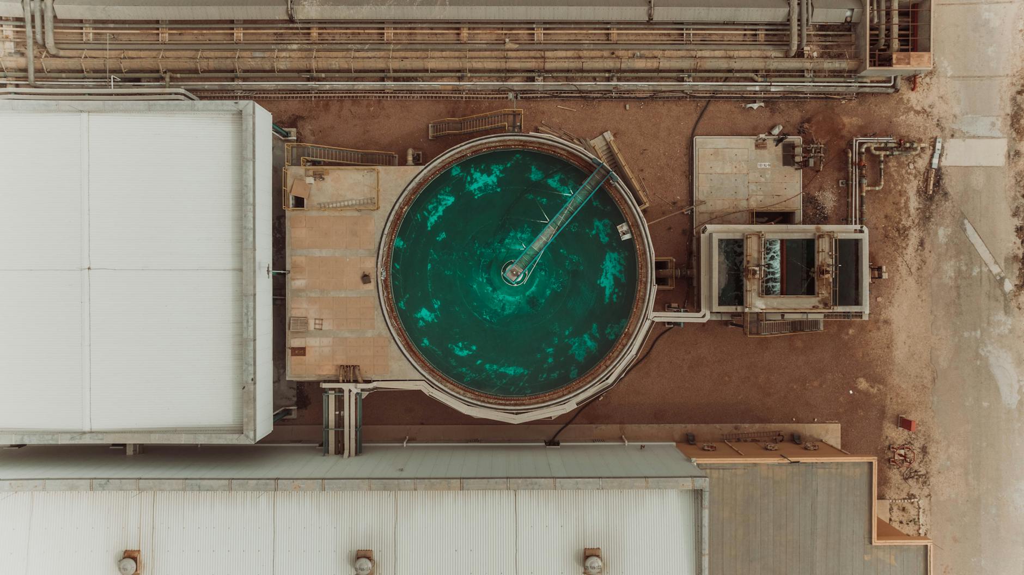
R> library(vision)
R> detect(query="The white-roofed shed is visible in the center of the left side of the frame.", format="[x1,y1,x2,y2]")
[0,100,297,443]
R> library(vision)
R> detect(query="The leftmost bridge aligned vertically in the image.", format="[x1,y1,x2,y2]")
[743,234,764,296]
